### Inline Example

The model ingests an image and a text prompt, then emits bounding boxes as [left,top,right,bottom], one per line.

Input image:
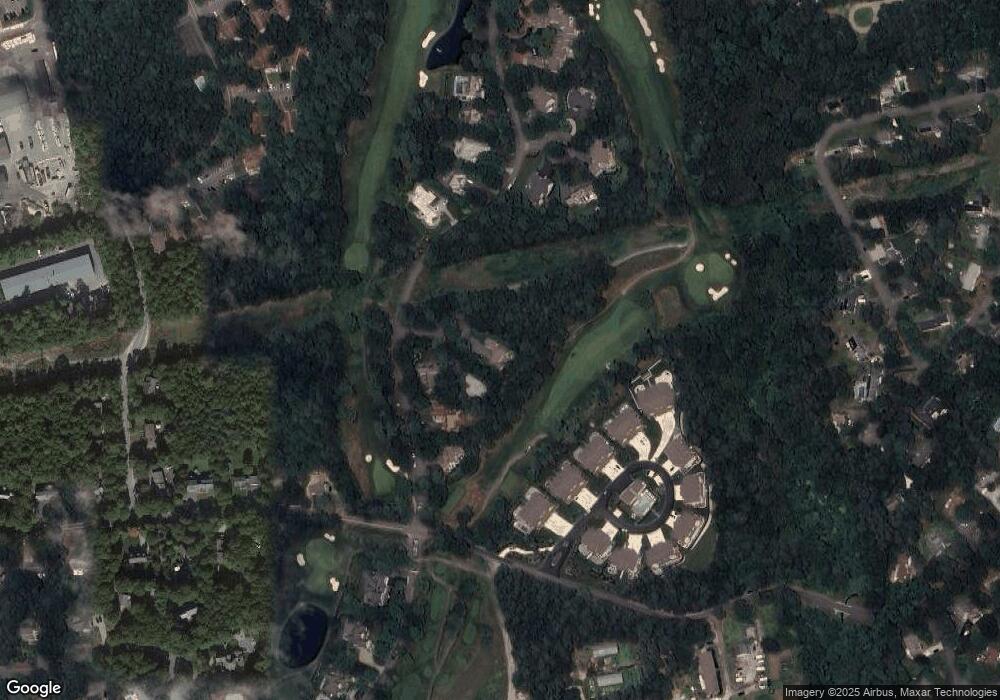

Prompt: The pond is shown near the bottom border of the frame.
[279,604,327,669]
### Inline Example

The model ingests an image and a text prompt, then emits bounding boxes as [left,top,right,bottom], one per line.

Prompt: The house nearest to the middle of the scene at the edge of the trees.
[483,334,513,367]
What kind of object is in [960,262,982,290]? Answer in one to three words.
barn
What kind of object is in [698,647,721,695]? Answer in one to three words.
building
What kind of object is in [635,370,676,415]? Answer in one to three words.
house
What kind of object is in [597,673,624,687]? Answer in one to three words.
shed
